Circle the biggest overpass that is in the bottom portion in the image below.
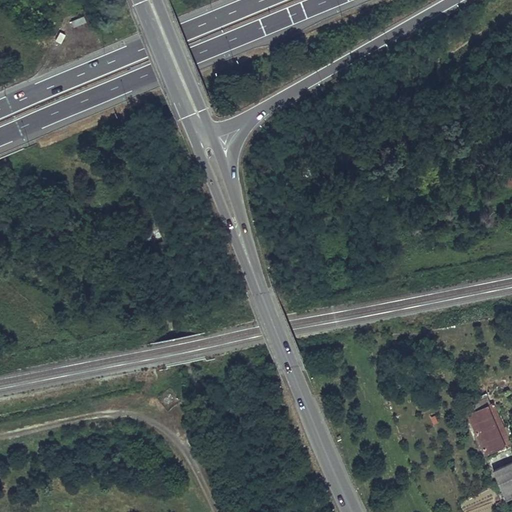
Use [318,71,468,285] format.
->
[248,291,305,366]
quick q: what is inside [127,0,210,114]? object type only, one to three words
overpass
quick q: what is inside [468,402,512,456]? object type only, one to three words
house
